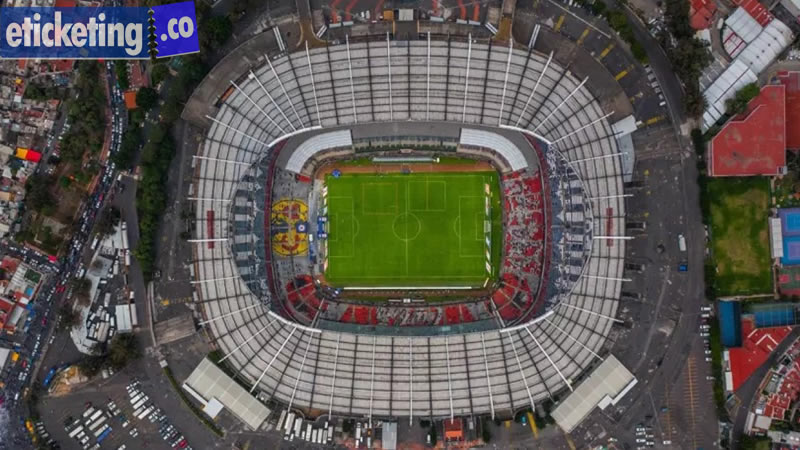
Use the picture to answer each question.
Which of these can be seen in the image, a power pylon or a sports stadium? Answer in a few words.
sports stadium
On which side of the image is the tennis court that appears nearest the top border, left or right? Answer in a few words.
right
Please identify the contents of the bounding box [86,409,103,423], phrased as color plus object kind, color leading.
white vehicle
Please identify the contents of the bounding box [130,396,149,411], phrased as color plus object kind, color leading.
white vehicle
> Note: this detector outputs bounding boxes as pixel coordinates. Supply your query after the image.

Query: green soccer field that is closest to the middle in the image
[326,173,501,288]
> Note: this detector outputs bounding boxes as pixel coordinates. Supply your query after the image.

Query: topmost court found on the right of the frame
[778,208,800,236]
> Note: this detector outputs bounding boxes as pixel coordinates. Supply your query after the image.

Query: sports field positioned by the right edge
[706,177,773,298]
